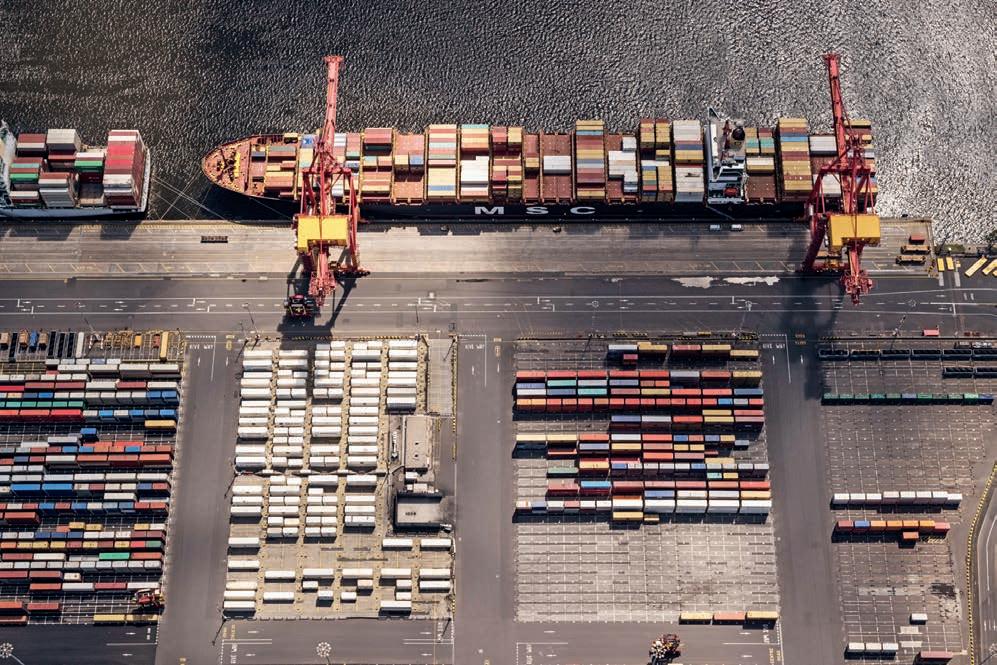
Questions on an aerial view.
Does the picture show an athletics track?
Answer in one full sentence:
No, I find no athletics track anywhere in the image.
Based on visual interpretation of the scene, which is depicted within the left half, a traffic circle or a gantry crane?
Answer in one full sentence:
Visible within the left half is a gantry crane.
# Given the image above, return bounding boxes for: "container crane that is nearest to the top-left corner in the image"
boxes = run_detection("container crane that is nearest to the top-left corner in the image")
[292,55,372,312]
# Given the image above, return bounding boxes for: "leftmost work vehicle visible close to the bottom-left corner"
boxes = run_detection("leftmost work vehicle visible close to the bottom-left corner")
[133,590,166,611]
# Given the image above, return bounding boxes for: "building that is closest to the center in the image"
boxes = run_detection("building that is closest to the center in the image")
[404,417,430,471]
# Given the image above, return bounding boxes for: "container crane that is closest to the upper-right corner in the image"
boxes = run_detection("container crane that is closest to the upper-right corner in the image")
[793,55,880,312]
